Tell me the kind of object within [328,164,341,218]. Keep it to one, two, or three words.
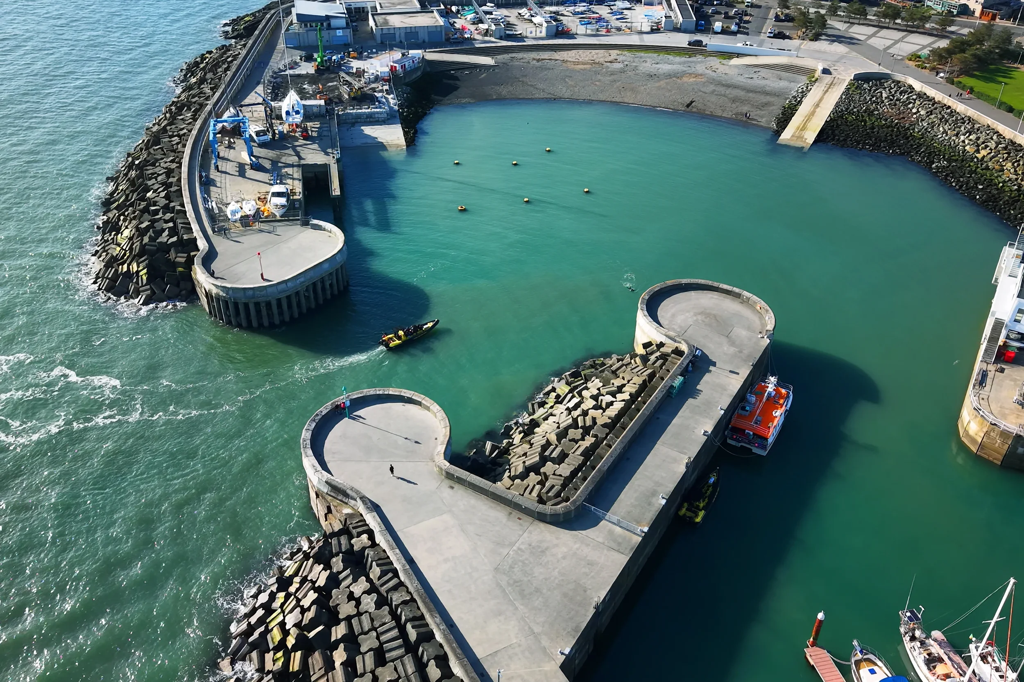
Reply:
pier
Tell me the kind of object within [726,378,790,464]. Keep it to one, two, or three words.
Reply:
boat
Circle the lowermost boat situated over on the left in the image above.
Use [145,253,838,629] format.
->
[375,314,440,350]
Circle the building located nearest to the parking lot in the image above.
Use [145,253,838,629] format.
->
[667,0,698,32]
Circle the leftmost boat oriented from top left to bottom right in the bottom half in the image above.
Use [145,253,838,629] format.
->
[855,646,907,682]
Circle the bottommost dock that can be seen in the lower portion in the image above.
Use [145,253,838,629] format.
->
[802,647,843,682]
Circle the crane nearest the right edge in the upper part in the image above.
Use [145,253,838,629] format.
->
[308,15,331,71]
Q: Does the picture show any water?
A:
Yes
